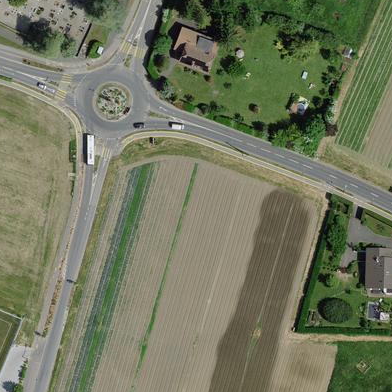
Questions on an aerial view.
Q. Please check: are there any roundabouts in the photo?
Yes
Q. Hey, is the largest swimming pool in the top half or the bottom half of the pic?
bottom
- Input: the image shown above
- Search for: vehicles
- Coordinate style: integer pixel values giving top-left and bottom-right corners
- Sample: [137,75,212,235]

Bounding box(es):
[37,83,48,90]
[88,135,96,166]
[171,124,184,130]
[134,124,145,128]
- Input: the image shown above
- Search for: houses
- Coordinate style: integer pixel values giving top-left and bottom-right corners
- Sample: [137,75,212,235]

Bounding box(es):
[174,26,220,75]
[367,248,392,298]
